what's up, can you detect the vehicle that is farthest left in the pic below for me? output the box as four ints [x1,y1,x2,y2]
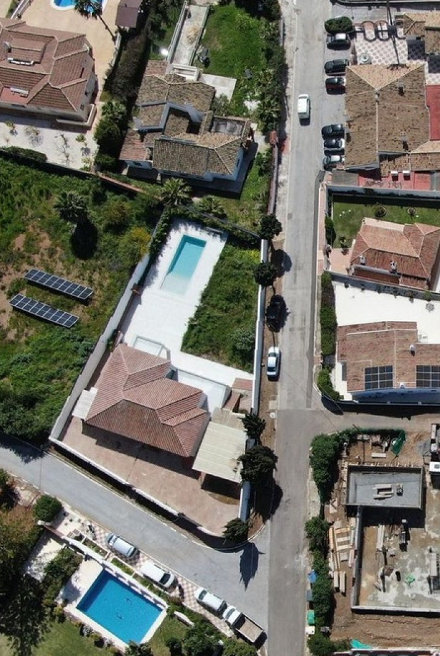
[104,531,141,562]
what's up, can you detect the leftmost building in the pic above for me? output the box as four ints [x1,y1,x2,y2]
[0,16,102,129]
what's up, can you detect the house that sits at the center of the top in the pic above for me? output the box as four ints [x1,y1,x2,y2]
[119,60,255,182]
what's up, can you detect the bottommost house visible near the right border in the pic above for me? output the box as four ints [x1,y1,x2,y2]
[336,321,440,396]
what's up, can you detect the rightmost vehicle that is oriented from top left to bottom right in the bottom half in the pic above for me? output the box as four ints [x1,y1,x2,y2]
[220,604,266,647]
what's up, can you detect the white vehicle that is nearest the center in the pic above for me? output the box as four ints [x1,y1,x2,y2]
[265,348,281,377]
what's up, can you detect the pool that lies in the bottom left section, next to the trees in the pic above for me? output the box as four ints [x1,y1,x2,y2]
[66,564,171,653]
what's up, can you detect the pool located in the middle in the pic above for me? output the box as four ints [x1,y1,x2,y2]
[156,232,208,297]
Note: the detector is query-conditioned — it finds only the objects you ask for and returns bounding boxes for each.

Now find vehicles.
[134,557,178,590]
[265,348,281,377]
[322,124,345,137]
[323,138,346,152]
[324,59,349,74]
[323,154,345,168]
[325,76,346,92]
[220,604,266,647]
[104,531,141,562]
[295,95,310,121]
[193,585,228,615]
[327,34,352,49]
[266,297,283,329]
[430,424,440,475]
